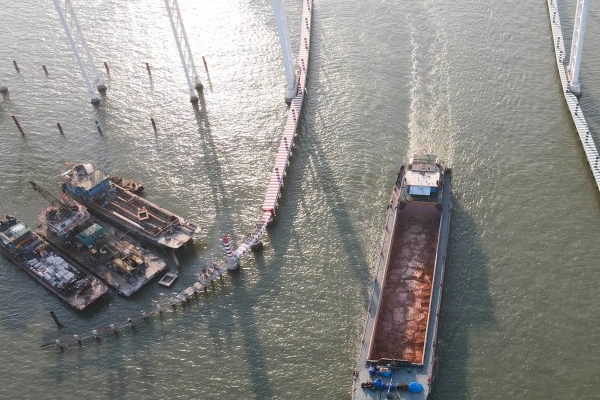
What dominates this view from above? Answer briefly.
water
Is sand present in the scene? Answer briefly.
No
